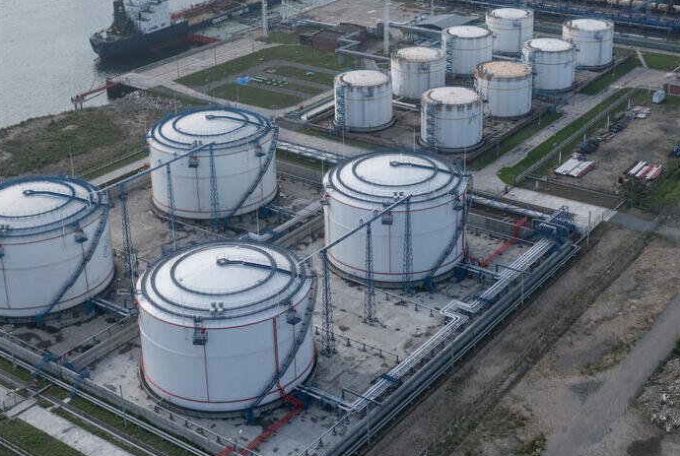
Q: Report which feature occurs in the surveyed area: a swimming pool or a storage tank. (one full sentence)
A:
There is a storage tank in the scene.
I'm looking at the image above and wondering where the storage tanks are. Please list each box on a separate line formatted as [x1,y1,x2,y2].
[570,21,620,74]
[0,147,121,323]
[395,45,448,103]
[528,38,582,95]
[423,87,491,155]
[142,88,282,224]
[317,128,472,287]
[127,216,320,419]
[491,8,537,58]
[480,60,538,122]
[447,27,499,80]
[335,70,398,135]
